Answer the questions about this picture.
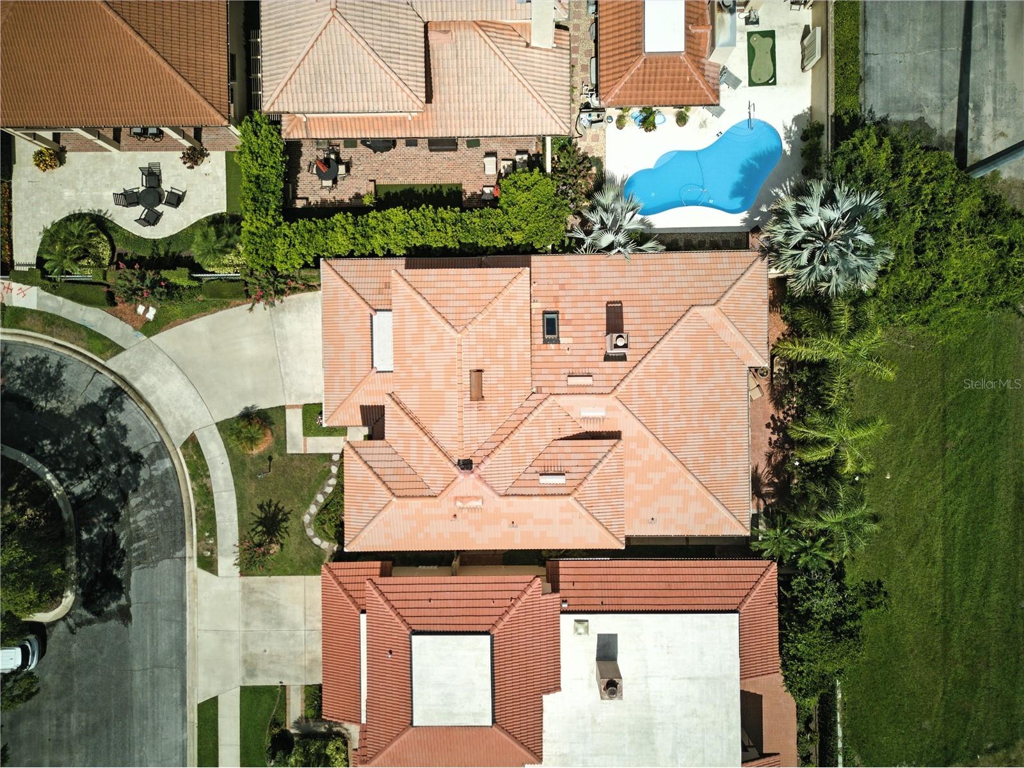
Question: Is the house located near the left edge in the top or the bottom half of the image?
top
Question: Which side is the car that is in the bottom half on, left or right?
left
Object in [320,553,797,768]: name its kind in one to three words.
house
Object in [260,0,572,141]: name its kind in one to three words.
house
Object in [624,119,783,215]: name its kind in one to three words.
swimming pool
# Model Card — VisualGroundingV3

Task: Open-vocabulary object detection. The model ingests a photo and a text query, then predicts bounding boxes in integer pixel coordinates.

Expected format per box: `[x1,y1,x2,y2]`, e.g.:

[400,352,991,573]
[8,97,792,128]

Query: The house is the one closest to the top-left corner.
[0,0,245,151]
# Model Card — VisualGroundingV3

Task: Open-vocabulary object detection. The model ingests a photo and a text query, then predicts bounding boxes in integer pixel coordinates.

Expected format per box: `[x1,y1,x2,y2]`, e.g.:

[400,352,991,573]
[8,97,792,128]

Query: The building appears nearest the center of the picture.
[319,249,771,553]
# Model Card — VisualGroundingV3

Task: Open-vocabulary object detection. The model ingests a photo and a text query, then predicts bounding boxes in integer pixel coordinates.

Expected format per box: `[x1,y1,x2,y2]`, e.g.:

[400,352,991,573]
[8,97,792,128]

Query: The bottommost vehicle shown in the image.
[0,629,42,674]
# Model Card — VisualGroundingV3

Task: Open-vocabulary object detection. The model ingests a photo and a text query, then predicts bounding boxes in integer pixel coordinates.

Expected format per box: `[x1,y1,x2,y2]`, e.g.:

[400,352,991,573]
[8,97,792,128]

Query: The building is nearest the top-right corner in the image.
[596,0,736,114]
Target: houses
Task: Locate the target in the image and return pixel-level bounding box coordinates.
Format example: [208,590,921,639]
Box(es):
[260,0,572,141]
[0,0,245,151]
[596,0,736,114]
[319,249,771,553]
[320,553,797,768]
